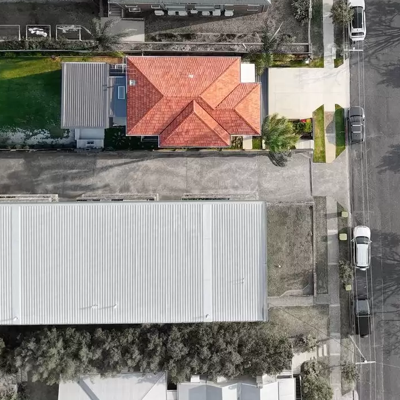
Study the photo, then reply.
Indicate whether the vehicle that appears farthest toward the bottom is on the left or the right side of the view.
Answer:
right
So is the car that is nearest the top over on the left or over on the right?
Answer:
right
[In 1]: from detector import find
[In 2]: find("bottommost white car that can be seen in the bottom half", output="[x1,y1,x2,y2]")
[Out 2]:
[352,223,373,272]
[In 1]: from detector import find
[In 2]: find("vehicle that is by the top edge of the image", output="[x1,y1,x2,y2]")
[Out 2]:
[348,0,368,42]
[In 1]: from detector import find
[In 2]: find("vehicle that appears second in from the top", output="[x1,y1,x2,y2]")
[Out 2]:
[346,103,367,146]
